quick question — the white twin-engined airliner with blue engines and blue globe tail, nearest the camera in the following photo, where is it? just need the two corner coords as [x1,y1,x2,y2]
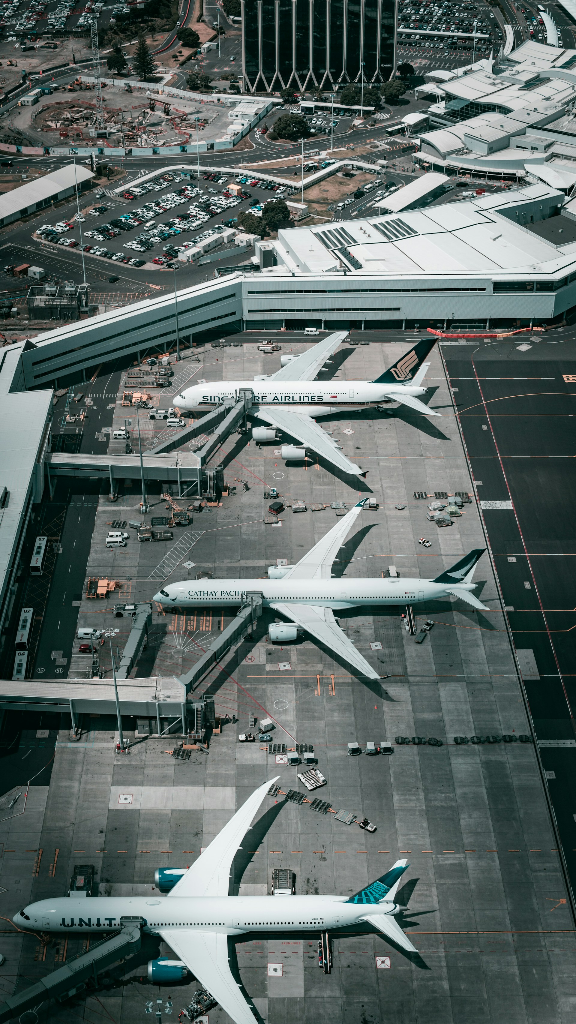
[13,775,423,1024]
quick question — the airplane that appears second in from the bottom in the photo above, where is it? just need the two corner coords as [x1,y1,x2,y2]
[153,496,493,675]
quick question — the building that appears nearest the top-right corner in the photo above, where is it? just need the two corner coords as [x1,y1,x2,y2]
[410,40,576,202]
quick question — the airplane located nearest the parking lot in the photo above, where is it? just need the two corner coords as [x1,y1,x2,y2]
[170,326,444,479]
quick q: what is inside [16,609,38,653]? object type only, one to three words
bus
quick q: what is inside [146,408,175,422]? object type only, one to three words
work vehicle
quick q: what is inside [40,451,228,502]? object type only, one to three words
bridge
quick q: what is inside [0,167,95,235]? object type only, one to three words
building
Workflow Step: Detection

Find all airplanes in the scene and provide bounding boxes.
[170,326,444,479]
[153,496,493,675]
[13,775,423,1024]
